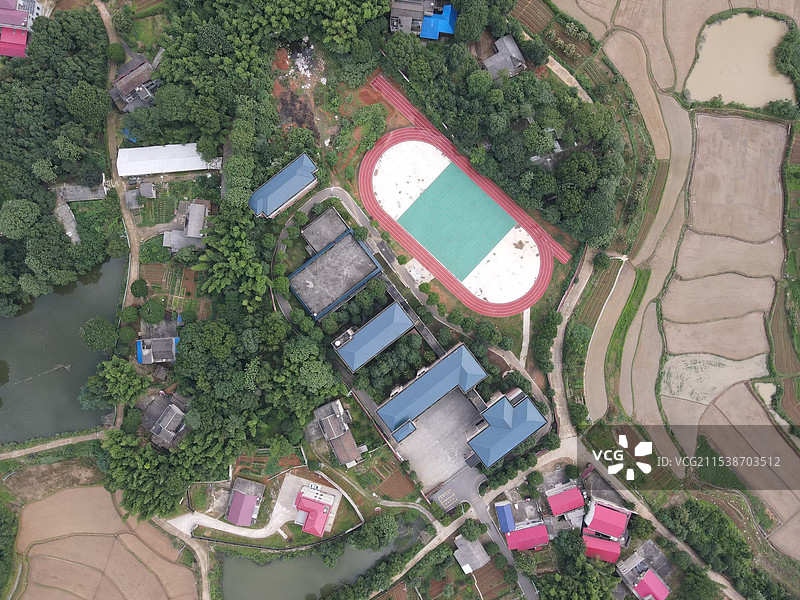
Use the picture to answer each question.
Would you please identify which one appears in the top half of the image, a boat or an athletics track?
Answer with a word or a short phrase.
athletics track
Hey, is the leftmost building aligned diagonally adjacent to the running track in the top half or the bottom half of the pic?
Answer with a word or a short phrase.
top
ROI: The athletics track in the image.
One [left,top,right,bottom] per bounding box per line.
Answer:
[358,74,572,317]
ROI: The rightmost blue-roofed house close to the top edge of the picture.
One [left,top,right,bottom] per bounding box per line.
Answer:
[420,5,457,41]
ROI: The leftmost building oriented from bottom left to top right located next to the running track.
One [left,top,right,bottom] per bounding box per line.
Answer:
[248,152,320,218]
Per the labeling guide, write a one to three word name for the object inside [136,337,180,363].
house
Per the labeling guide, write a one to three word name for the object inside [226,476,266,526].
house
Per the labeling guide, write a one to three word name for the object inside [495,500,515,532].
shed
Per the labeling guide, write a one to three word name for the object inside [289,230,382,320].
building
